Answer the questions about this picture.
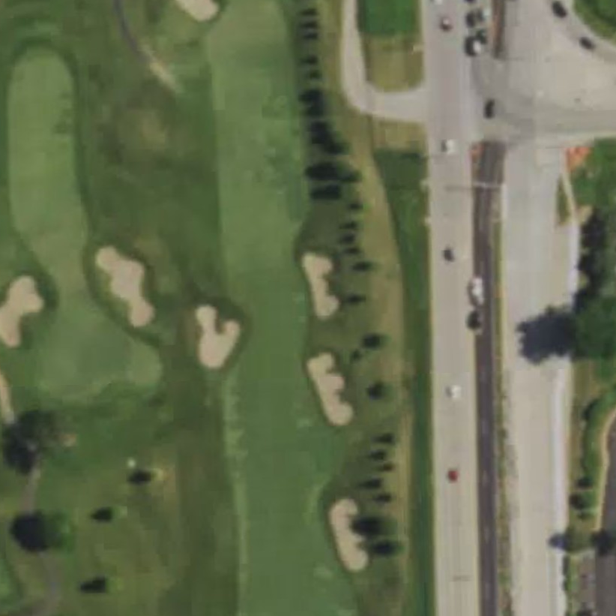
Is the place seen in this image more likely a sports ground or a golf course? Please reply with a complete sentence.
It's a golf course.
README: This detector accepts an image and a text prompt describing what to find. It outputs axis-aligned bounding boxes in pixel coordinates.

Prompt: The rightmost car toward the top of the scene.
[579,36,597,50]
